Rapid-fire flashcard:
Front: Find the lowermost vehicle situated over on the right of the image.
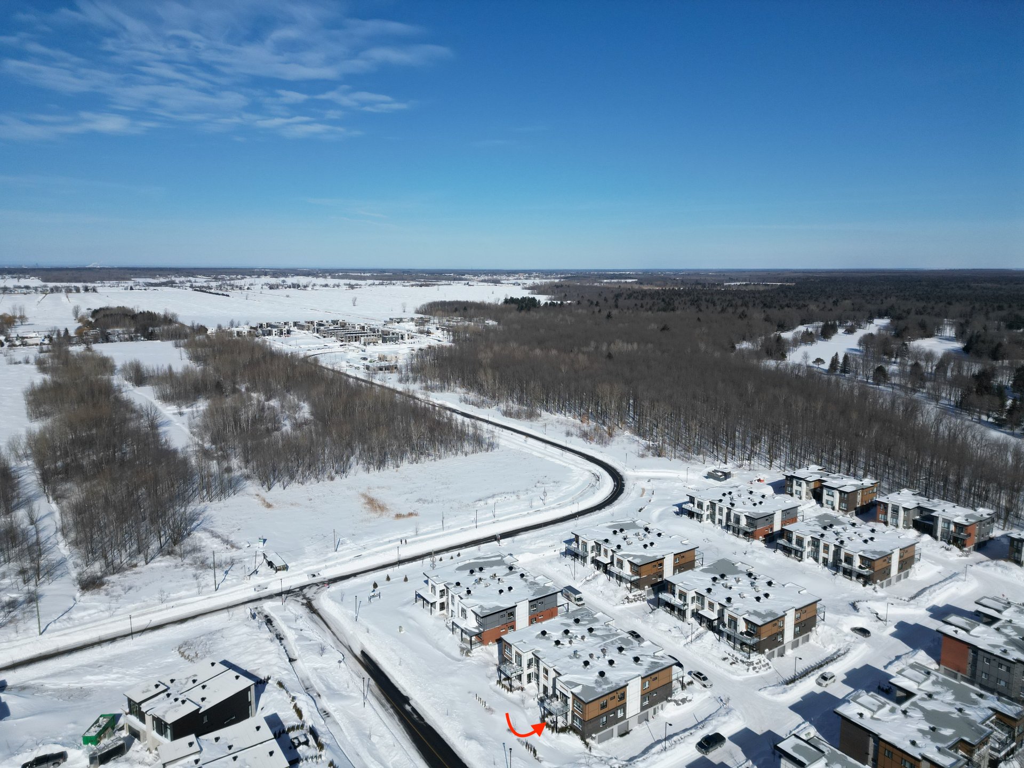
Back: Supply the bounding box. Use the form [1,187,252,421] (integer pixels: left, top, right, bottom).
[696,731,726,748]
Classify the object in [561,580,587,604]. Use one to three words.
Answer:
truck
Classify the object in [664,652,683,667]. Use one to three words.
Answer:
car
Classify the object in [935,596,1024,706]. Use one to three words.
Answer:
building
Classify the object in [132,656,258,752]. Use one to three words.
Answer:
house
